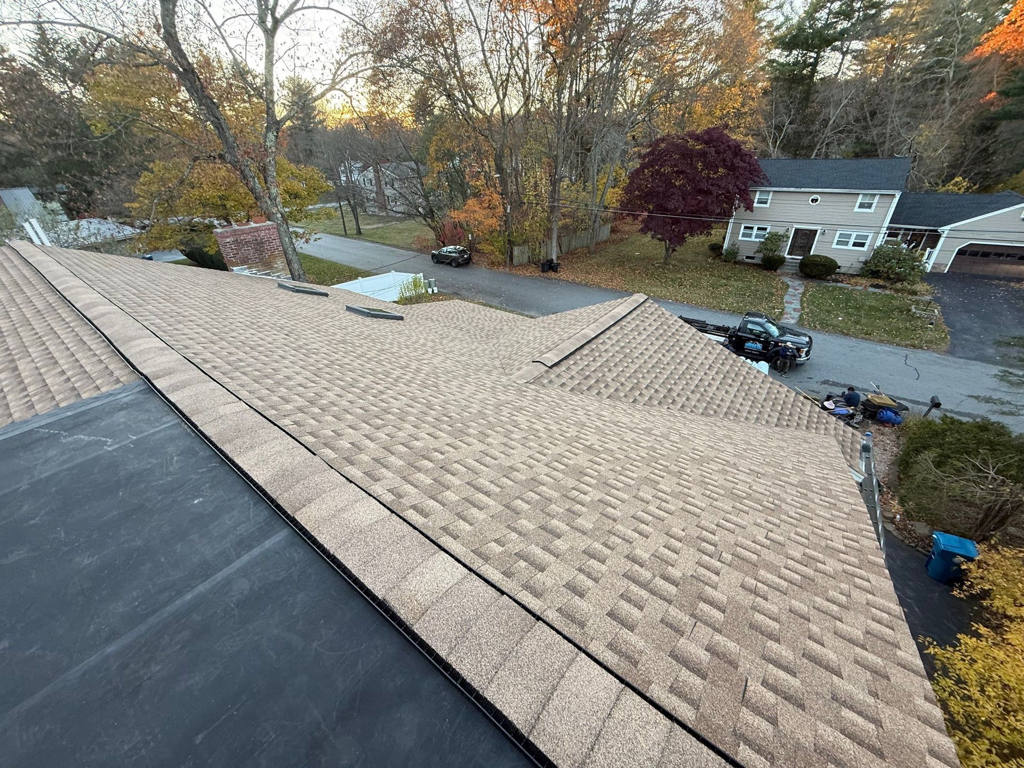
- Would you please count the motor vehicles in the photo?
2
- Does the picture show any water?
No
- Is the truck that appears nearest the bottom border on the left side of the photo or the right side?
right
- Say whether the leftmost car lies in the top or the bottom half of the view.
top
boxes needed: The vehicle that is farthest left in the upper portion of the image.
[430,243,474,267]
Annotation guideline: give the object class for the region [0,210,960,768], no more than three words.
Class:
house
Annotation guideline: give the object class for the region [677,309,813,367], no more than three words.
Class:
truck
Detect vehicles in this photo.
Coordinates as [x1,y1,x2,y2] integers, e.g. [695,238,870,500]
[430,243,474,267]
[677,309,813,367]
